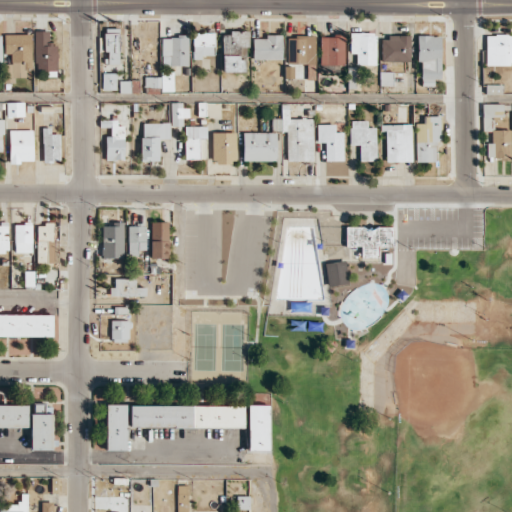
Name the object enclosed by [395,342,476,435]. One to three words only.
baseball field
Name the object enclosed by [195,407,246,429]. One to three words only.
building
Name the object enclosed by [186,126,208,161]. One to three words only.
house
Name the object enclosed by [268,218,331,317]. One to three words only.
swimming pool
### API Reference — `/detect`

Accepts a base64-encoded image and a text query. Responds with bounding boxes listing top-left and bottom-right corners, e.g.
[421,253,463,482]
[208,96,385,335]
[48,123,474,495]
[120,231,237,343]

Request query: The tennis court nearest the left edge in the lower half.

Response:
[196,324,218,370]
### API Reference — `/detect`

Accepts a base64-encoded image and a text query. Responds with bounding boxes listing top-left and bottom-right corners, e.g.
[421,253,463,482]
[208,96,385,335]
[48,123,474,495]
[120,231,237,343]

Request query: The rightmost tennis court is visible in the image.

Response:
[222,325,243,371]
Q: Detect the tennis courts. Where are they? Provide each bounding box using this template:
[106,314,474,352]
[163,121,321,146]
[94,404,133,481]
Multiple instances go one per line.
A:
[196,324,218,370]
[222,325,243,371]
